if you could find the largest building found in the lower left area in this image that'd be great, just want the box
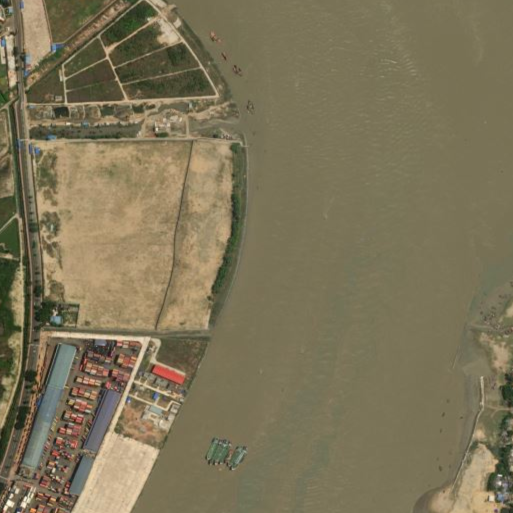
[21,343,76,470]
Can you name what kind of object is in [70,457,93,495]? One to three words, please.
building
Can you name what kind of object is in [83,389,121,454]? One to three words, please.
building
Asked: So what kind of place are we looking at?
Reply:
port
